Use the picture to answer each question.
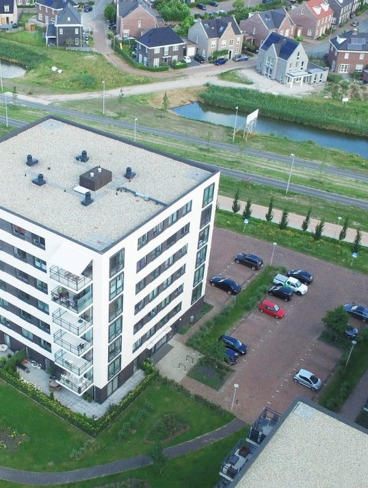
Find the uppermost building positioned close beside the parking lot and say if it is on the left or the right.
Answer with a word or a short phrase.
left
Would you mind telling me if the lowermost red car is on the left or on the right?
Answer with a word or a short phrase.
right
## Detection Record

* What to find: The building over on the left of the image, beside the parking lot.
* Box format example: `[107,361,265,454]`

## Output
[0,116,220,402]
